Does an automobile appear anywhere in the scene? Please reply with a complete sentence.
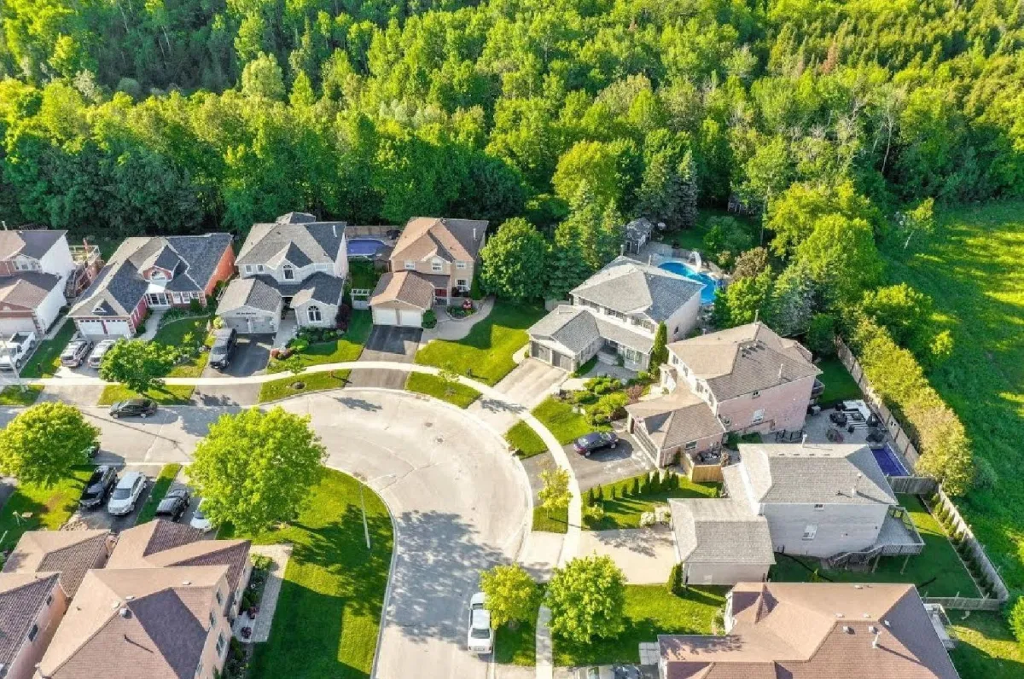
Yes, there is an automobile in the image.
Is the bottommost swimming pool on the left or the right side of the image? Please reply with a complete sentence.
The bottommost swimming pool is on the right side of the image.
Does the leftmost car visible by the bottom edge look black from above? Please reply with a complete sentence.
No, from above the leftmost car visible by the bottom edge looks white.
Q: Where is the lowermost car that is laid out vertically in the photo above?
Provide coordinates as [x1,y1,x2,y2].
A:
[466,594,493,650]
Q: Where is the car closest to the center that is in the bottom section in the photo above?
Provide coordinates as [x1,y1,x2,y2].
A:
[574,425,624,453]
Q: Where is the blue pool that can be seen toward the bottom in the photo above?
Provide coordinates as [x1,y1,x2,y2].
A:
[870,445,913,479]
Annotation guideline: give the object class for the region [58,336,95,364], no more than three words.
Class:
car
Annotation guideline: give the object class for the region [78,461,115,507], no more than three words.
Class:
car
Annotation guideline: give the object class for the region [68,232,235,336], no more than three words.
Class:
house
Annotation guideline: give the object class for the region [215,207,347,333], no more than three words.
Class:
house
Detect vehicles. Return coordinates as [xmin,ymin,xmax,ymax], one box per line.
[579,665,647,679]
[78,461,115,507]
[466,594,493,650]
[85,336,119,364]
[107,397,159,418]
[108,461,146,511]
[156,466,199,514]
[190,481,223,525]
[574,425,624,453]
[58,336,95,364]
[209,335,236,366]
